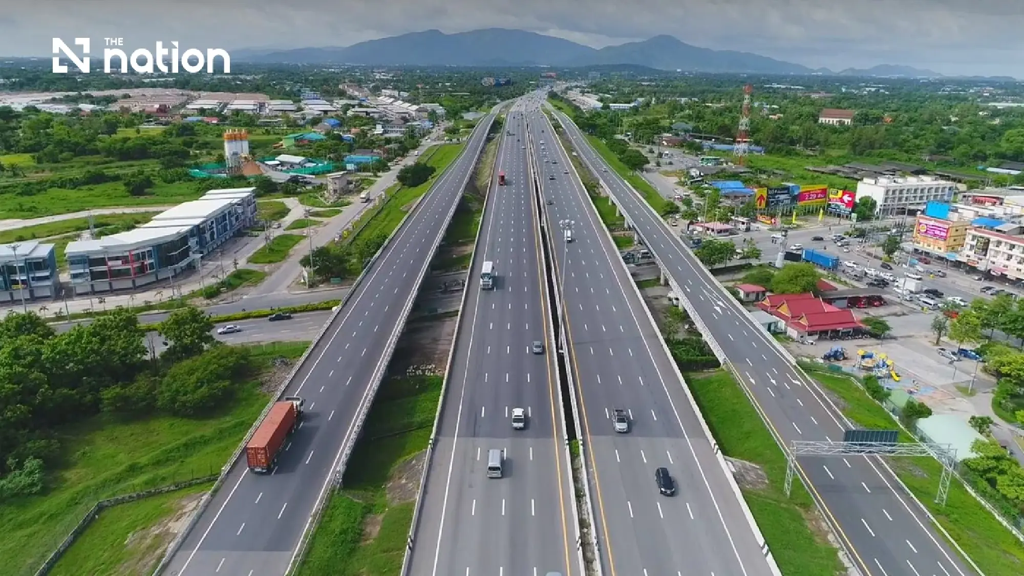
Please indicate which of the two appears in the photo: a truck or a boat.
truck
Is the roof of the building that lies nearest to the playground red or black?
red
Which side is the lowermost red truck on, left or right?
left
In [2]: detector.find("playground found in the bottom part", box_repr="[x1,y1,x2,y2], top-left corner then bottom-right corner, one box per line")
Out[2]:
[856,342,905,378]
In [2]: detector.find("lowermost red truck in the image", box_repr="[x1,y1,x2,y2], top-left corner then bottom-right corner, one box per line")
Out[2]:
[250,391,305,468]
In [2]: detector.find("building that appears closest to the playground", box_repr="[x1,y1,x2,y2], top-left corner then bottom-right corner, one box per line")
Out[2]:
[757,292,880,341]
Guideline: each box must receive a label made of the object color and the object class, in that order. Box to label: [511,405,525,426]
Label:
white vehicle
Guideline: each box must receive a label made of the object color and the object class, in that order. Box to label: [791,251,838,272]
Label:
blue truck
